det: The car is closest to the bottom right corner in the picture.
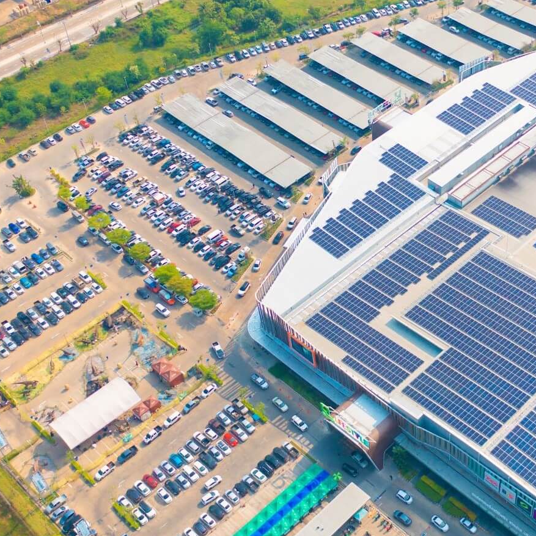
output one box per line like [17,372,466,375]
[457,515,479,534]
